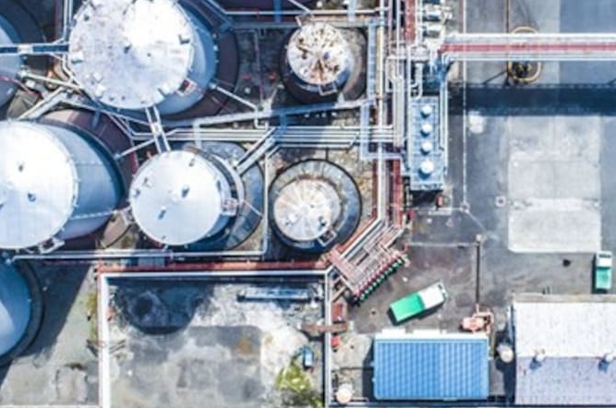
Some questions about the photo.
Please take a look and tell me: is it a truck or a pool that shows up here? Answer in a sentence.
The image shows a truck.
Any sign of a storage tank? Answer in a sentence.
Yes, the picture does show a storage tank.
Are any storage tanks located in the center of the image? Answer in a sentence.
Yes, there is a storage tank in the center of the image.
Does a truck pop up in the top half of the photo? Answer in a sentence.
No, no truck appears in the top half of the photo.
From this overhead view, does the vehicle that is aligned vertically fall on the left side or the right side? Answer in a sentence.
The vehicle that is aligned vertically appears in the right half of the scene.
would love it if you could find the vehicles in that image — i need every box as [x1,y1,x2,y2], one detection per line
[384,276,450,326]
[592,250,613,292]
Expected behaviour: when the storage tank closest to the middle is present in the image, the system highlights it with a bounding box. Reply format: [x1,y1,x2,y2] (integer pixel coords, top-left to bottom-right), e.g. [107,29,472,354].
[267,161,364,255]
